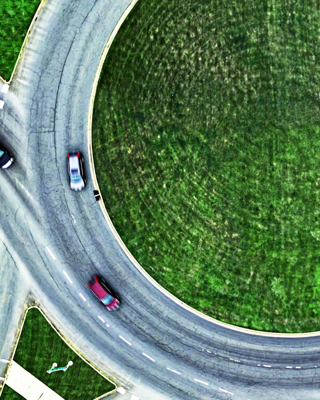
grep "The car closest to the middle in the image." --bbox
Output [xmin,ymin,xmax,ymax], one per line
[66,151,86,190]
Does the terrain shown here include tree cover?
No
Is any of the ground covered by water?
No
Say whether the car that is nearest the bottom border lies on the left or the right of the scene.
left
